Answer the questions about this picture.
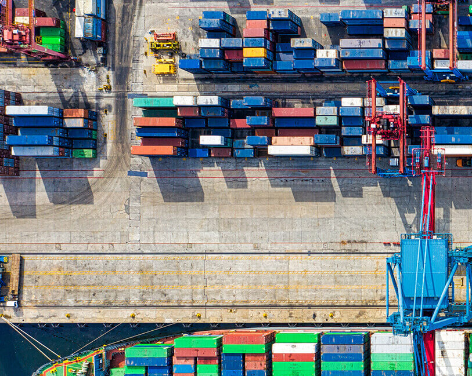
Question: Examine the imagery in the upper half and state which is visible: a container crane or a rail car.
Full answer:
Looking in the upper half, you will find a container crane.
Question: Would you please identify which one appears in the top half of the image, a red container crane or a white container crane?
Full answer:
Looking in the top half of the image, you will find a red container crane.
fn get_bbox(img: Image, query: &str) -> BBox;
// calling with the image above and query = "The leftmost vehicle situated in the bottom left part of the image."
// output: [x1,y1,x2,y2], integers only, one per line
[7,253,22,308]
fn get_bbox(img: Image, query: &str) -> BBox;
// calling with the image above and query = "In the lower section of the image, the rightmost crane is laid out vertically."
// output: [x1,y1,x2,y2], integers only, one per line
[384,116,472,376]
